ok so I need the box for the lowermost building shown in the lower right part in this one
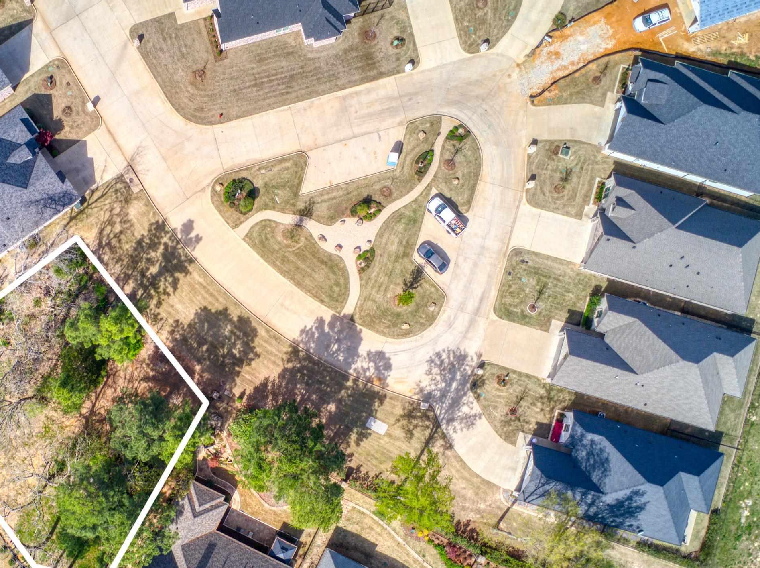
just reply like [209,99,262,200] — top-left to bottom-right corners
[510,409,724,547]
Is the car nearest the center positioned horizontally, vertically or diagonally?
diagonally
